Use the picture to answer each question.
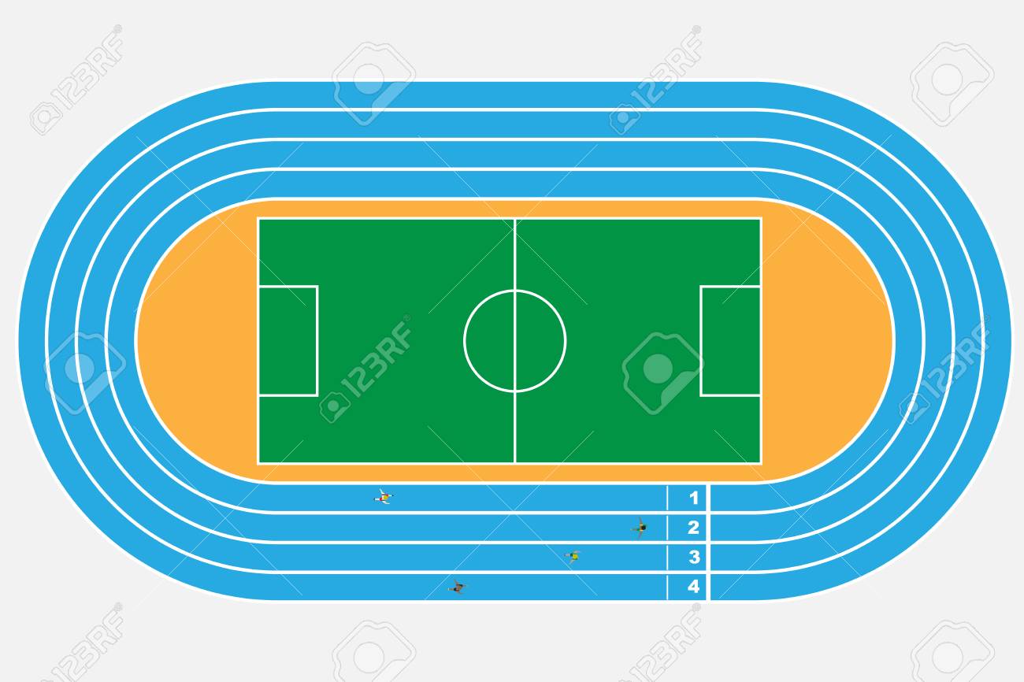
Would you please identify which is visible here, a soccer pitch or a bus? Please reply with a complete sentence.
Visible in the photo is a soccer pitch.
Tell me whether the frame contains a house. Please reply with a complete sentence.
No, there's no house here.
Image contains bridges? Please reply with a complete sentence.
No, no bridge is visible in the view.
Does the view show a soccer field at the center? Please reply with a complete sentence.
Yes, a soccer field is visible at the center.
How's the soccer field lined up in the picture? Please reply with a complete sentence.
In this picture, the soccer field is oriented from side to side.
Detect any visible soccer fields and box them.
[257,217,762,465]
